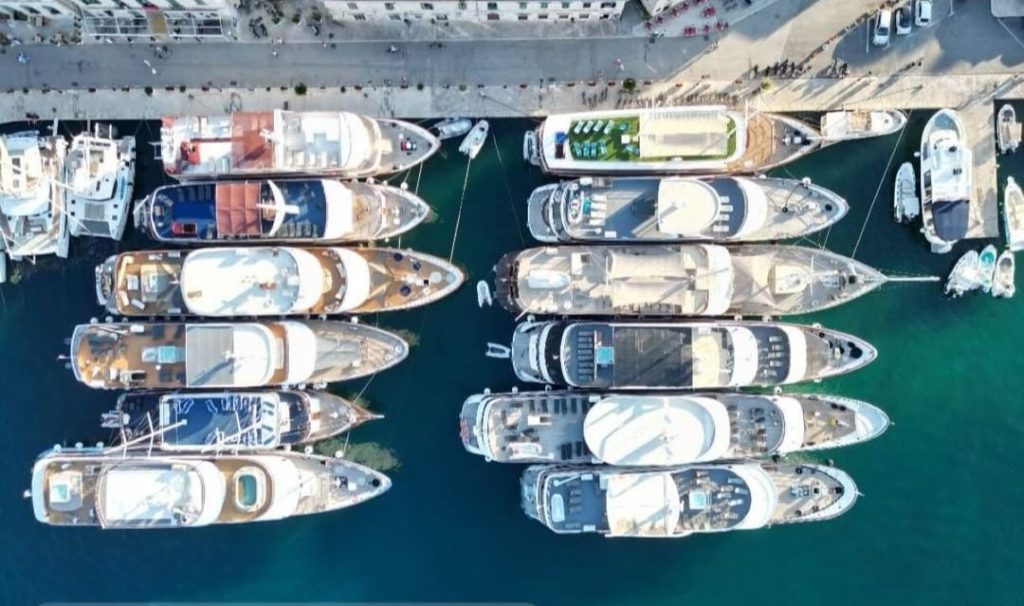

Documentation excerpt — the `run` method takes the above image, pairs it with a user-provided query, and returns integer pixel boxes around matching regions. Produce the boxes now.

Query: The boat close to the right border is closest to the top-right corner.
[998,104,1023,154]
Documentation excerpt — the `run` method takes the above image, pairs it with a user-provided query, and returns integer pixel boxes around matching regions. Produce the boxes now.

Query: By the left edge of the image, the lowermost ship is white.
[10,446,391,528]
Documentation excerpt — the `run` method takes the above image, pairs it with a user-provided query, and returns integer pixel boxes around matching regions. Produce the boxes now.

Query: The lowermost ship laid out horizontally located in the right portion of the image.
[522,462,864,536]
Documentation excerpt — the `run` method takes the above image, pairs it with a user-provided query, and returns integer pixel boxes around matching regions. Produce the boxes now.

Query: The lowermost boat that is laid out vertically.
[551,493,566,524]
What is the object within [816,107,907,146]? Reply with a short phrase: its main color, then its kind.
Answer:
white boat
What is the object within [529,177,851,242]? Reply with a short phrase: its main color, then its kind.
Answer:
white ship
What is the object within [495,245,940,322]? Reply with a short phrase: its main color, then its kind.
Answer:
white ship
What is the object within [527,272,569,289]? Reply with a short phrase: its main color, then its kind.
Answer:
white boat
